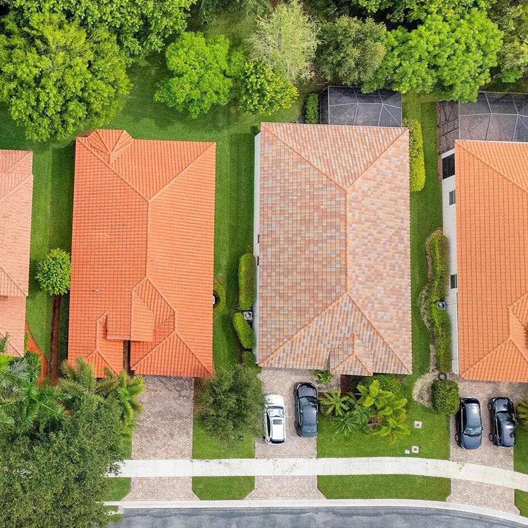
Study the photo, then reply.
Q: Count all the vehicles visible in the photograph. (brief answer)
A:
4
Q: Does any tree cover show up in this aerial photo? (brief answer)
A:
Yes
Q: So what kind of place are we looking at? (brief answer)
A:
residential area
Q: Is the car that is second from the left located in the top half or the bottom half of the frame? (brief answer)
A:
bottom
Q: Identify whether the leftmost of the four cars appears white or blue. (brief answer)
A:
white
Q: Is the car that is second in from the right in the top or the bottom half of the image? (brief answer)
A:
bottom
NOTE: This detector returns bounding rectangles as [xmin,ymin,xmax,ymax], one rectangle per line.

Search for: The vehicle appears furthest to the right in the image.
[486,397,519,449]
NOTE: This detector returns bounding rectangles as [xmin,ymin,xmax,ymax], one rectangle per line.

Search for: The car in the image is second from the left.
[294,384,320,439]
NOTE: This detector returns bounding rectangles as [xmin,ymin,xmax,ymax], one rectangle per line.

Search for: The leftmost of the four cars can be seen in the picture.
[261,395,289,447]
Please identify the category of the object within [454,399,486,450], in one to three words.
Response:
car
